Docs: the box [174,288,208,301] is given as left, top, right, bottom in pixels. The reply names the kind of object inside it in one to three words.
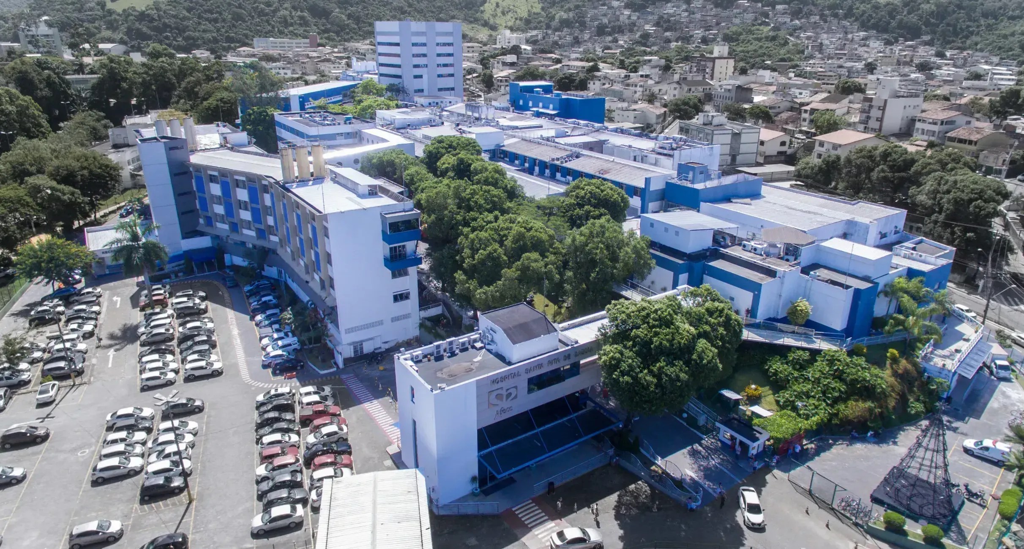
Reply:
vehicle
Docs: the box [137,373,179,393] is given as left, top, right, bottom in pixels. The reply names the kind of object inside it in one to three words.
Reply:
car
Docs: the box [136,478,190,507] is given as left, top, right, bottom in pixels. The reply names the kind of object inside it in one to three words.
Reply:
car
